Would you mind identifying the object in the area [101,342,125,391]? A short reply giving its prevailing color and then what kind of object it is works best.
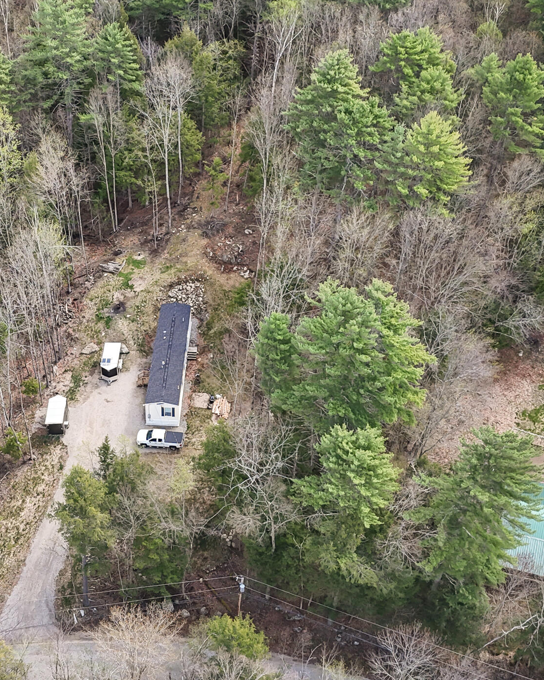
white trailer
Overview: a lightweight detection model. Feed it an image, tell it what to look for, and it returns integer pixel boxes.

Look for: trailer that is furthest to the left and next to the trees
[44,396,69,435]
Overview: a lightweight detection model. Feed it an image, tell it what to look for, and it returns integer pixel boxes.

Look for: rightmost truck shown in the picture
[135,427,187,450]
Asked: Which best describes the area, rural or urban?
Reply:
rural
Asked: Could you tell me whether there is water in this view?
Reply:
No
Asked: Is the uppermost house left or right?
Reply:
left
